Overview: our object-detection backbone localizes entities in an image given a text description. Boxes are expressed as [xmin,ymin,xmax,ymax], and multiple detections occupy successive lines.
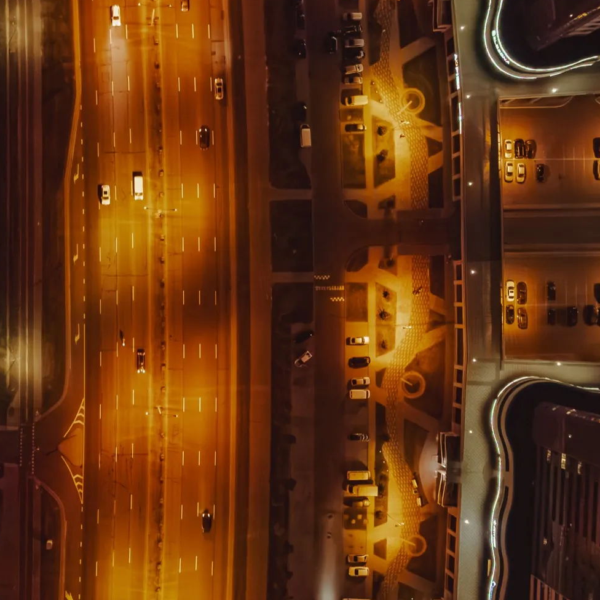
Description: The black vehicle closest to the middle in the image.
[292,329,314,343]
